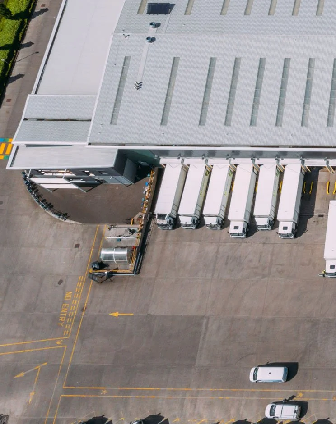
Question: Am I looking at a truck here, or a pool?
truck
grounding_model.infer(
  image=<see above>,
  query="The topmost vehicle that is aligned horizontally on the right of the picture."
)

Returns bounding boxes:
[251,366,289,383]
